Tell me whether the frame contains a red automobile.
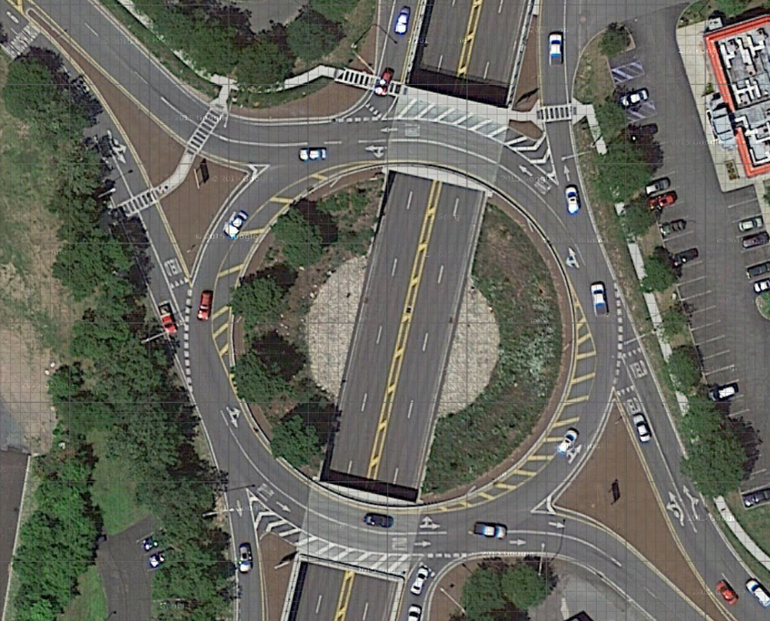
Yes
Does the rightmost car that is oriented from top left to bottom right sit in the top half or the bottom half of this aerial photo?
bottom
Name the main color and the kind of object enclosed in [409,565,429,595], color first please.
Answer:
white car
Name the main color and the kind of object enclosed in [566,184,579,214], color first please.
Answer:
white vehicle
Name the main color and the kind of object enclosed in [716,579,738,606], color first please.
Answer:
red car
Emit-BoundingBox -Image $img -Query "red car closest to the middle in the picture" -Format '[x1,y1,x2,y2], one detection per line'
[198,290,212,320]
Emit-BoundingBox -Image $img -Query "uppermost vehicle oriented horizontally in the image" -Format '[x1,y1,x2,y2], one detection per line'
[620,89,650,105]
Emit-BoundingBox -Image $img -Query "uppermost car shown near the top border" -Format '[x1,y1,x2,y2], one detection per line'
[394,6,409,35]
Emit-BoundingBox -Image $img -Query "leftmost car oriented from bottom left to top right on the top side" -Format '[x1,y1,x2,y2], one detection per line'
[225,208,249,237]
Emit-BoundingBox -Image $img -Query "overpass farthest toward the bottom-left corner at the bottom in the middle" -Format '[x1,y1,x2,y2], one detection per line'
[296,479,422,580]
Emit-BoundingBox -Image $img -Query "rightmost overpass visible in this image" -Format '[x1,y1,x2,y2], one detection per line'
[386,83,513,192]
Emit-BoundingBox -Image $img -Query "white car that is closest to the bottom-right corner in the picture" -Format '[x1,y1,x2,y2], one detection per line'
[747,577,770,607]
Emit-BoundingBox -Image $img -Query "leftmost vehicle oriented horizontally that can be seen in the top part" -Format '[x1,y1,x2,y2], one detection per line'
[299,147,326,160]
